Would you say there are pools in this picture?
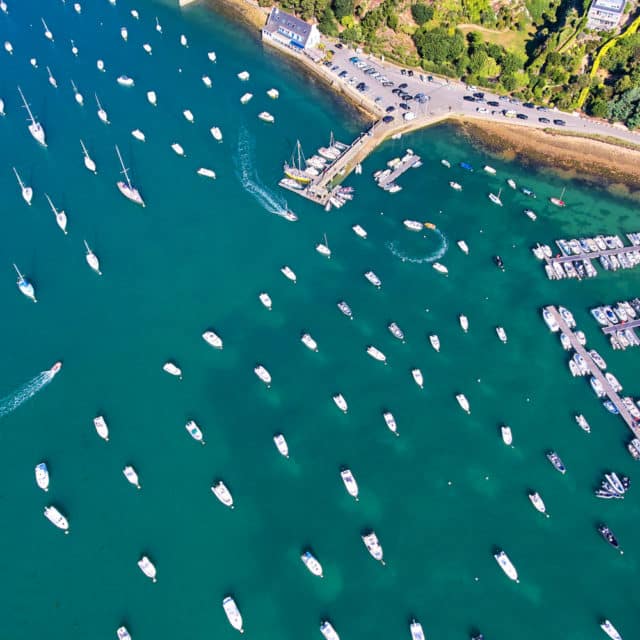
No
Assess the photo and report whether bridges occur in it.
No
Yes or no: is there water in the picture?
Yes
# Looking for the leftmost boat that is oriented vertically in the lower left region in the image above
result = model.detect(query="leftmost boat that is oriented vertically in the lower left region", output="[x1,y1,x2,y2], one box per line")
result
[34,464,49,492]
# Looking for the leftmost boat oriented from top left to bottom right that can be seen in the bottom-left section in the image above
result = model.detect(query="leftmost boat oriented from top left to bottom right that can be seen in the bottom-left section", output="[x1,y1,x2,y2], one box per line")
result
[46,509,70,533]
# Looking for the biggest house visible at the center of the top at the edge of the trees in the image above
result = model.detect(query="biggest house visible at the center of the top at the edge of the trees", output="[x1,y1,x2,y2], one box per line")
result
[259,6,327,52]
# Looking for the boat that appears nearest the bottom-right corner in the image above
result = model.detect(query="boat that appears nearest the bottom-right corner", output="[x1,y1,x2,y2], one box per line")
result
[598,617,621,640]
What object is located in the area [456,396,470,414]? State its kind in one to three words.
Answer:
boat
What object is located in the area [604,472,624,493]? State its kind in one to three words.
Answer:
boat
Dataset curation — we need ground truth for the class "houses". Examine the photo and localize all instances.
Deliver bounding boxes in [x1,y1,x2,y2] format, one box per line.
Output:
[259,6,327,52]
[587,0,632,31]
